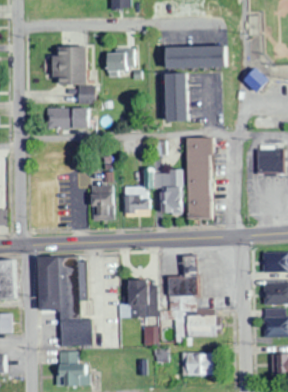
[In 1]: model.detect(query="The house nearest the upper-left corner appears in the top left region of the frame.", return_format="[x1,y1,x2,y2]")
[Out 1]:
[45,46,86,85]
